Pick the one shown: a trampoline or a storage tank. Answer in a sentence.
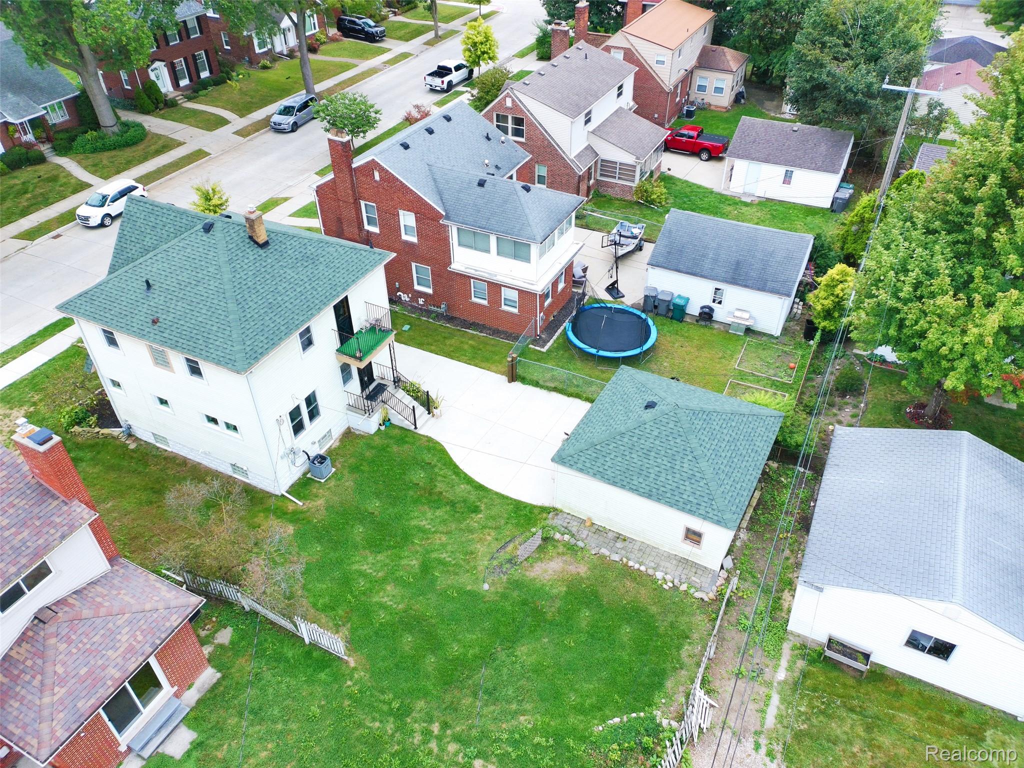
The one in the frame is a trampoline.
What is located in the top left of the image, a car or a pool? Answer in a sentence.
Visible in the top left of the image is a car.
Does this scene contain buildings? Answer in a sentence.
Yes, I can see a building in this picture.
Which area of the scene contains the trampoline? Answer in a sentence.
The trampoline is located in the center region of the scene.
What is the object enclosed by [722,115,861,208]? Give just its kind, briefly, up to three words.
building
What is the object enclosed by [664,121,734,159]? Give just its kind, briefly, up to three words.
truck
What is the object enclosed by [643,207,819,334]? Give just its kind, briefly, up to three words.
building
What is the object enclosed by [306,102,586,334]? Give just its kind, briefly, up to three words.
house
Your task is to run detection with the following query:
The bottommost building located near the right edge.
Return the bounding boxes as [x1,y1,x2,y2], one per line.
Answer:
[786,427,1024,722]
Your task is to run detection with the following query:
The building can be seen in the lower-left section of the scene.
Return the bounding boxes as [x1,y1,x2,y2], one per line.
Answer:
[0,420,214,768]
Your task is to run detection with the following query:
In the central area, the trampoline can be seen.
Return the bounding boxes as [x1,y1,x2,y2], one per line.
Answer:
[563,276,658,371]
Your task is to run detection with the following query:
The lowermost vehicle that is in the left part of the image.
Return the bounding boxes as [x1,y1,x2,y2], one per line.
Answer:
[77,180,154,227]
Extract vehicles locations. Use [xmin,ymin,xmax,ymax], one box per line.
[333,17,384,43]
[77,180,154,227]
[664,121,734,159]
[426,59,478,91]
[269,93,327,132]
